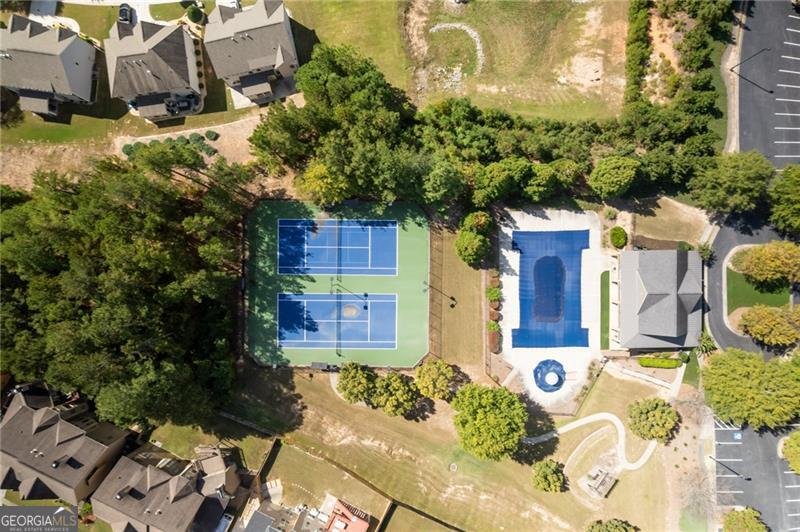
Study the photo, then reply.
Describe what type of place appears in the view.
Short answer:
residential area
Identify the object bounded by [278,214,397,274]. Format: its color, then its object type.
blue tennis court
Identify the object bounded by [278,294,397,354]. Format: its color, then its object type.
blue tennis court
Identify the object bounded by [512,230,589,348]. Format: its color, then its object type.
blue swimming pool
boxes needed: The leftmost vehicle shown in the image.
[118,1,131,20]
